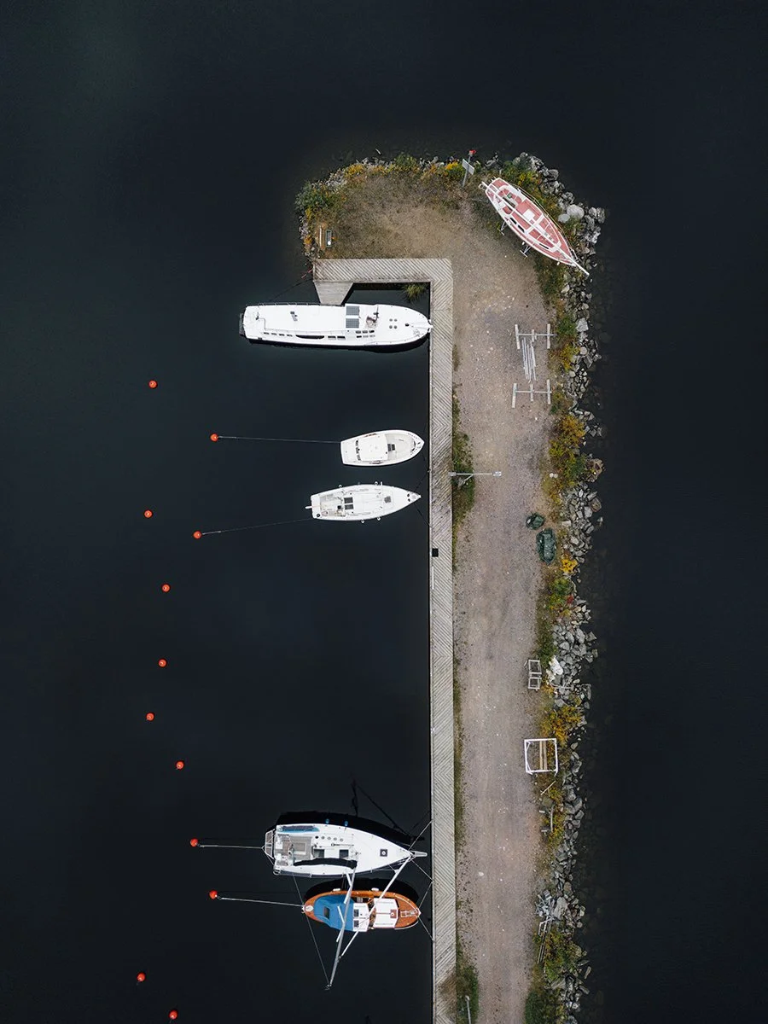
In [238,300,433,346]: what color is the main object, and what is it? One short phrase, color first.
white boat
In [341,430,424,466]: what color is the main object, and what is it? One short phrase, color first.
white boat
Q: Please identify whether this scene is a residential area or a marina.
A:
marina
